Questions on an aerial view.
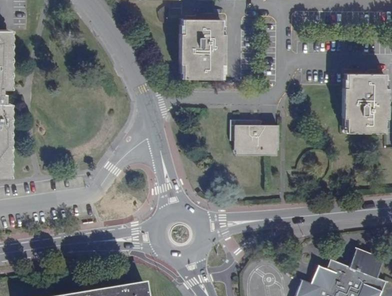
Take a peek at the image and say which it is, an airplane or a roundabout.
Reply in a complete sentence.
The image shows a roundabout.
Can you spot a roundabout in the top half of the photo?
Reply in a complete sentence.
No, there's no roundabout to be seen in the top half of the photo.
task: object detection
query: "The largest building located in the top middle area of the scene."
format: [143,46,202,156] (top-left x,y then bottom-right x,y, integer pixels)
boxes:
[178,20,228,80]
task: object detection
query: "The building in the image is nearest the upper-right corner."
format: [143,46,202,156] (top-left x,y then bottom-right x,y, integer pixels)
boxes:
[340,75,391,134]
